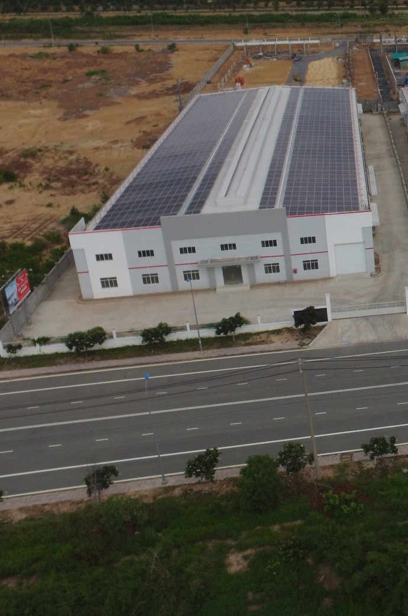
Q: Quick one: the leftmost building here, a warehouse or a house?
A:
warehouse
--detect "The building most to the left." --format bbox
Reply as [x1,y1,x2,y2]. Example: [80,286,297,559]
[68,82,387,298]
